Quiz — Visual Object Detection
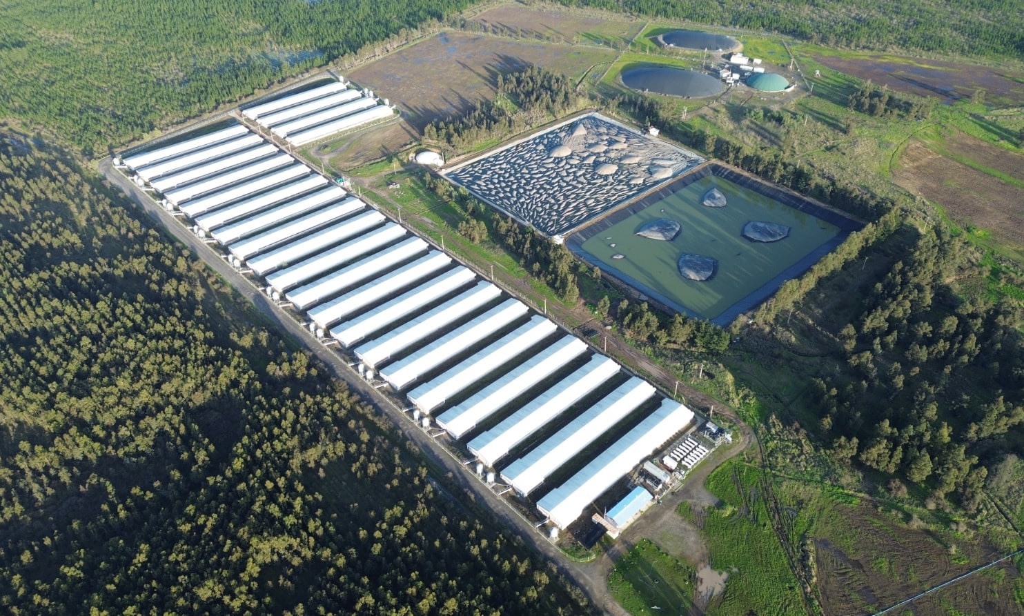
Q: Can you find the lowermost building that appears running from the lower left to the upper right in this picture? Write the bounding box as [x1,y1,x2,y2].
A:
[605,485,653,530]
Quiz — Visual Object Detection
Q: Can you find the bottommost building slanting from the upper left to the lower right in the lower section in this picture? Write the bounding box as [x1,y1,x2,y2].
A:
[590,513,622,543]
